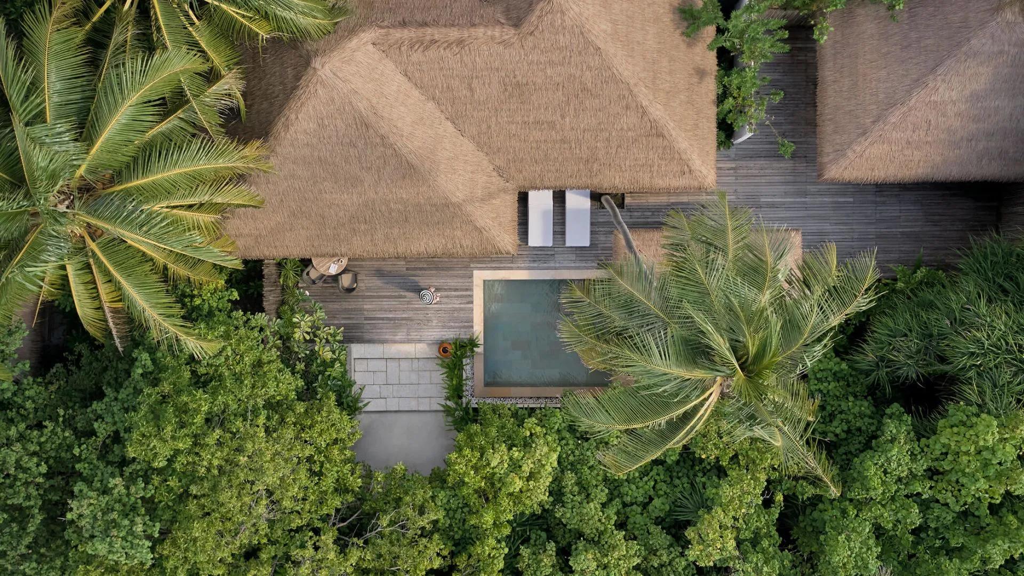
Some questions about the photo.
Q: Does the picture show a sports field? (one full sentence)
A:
No, there is no sports field in the image.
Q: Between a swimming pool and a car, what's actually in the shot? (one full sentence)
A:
I can see a swimming pool in this picture.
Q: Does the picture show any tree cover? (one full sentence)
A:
Yes, the picture does contain tree cover.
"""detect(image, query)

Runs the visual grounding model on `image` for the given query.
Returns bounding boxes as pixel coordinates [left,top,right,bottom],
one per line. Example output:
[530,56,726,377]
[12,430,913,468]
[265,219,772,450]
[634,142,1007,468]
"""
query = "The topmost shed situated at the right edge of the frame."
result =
[808,0,1024,191]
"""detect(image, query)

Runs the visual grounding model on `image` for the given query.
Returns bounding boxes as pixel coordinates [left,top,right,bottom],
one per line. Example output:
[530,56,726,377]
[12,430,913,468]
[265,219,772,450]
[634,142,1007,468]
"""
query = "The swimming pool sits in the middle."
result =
[474,271,620,397]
